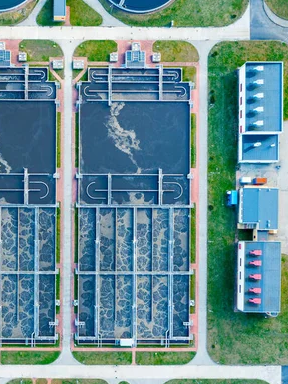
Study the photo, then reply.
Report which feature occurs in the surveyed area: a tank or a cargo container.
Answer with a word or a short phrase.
tank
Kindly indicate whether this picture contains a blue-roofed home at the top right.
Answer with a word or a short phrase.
Yes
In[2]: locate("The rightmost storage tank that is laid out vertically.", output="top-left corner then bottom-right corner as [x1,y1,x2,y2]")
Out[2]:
[73,62,196,349]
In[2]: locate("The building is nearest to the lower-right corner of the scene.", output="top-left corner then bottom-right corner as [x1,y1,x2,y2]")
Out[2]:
[239,240,282,312]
